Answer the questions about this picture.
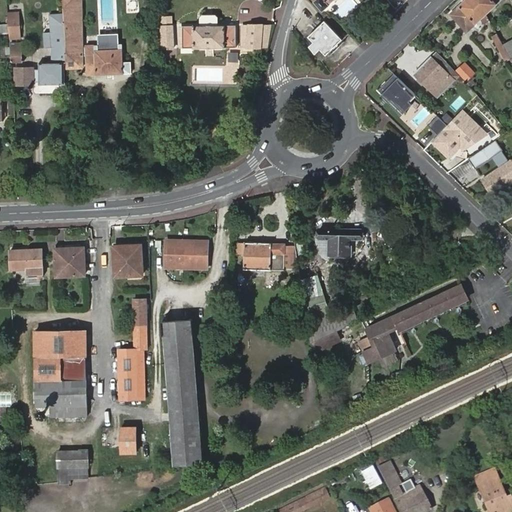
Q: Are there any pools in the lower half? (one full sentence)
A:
No, no pool can be made out in the lower half.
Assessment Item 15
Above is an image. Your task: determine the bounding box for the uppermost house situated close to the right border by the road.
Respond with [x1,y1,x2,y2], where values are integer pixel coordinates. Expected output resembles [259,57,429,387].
[448,0,496,33]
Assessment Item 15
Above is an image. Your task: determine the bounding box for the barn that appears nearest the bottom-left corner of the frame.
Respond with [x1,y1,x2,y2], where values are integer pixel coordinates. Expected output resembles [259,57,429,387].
[55,450,88,485]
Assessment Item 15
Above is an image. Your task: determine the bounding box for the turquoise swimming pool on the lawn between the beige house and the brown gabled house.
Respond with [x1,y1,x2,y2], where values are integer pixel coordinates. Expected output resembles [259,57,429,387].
[448,95,466,113]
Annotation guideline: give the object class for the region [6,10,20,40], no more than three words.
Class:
shed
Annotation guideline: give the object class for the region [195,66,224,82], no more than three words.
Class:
swimming pool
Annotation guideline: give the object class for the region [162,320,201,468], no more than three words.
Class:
building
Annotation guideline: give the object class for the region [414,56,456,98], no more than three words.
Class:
house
